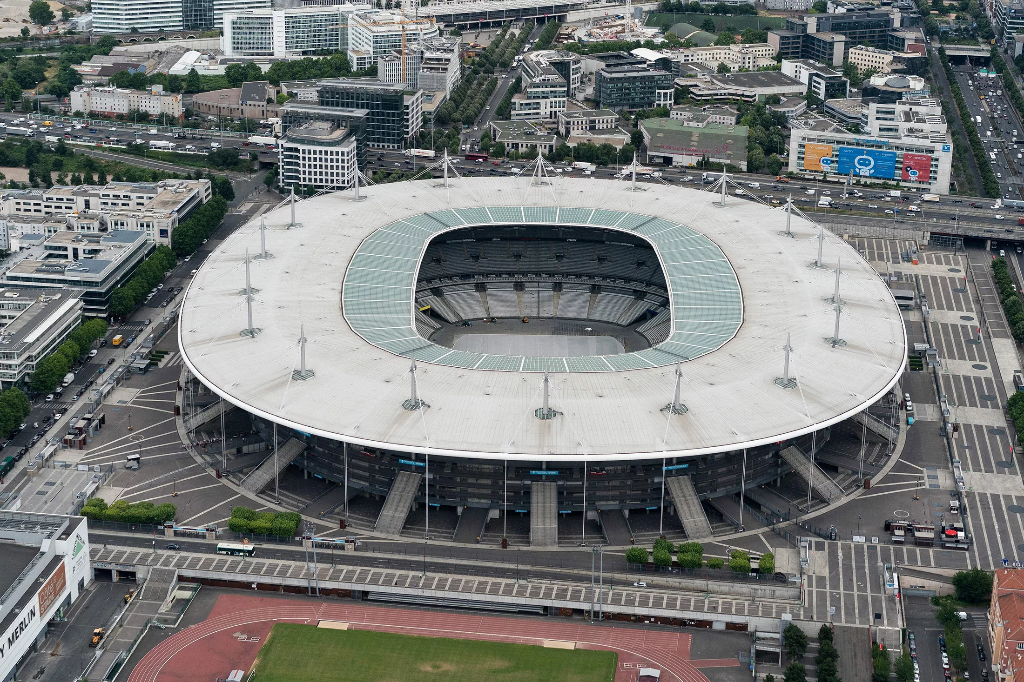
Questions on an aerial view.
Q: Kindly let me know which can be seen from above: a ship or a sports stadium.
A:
sports stadium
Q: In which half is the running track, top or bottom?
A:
bottom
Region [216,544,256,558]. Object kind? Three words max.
vehicle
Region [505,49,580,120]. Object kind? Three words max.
building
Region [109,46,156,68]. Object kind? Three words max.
shed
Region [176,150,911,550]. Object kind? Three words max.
stadium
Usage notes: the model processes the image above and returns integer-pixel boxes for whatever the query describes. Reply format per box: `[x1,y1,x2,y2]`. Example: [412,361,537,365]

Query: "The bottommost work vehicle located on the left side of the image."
[83,625,107,649]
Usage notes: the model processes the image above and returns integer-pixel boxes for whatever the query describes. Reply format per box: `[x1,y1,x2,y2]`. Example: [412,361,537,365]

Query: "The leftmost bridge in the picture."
[90,28,200,43]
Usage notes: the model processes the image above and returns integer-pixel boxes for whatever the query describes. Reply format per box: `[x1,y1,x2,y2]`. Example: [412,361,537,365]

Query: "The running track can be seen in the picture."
[132,606,701,682]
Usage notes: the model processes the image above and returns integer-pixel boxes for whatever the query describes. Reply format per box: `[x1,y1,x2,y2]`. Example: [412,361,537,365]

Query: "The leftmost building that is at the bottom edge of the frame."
[0,508,90,682]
